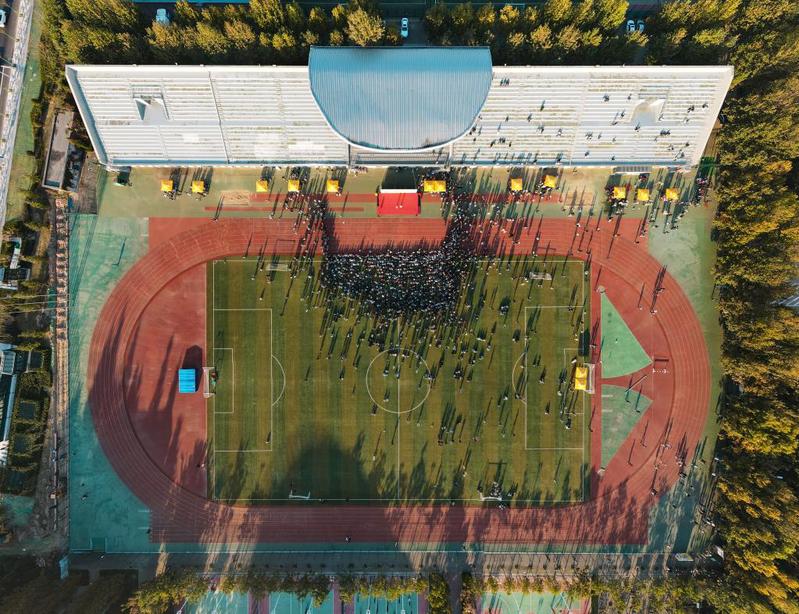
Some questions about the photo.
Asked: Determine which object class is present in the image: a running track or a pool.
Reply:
running track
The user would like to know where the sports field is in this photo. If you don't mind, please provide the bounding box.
[206,252,591,509]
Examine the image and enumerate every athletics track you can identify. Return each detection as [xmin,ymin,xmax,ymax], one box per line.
[87,217,712,544]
